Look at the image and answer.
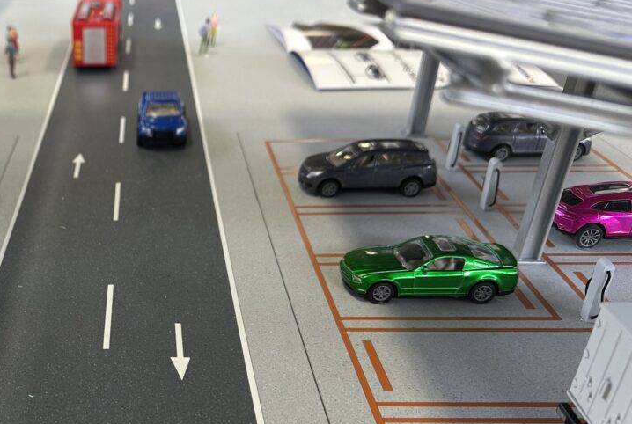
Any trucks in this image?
Yes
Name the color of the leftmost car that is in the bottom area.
green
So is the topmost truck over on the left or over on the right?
left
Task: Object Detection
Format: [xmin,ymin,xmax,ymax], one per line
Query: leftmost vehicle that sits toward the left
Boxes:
[73,0,121,65]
